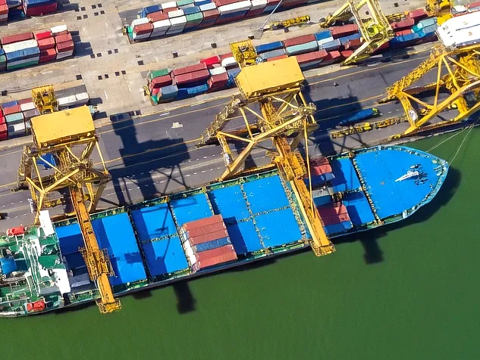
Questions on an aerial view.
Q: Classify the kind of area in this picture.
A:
port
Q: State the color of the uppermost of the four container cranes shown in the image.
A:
yellow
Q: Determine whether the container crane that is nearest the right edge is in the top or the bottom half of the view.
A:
top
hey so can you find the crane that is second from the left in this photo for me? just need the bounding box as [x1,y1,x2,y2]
[201,38,342,262]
